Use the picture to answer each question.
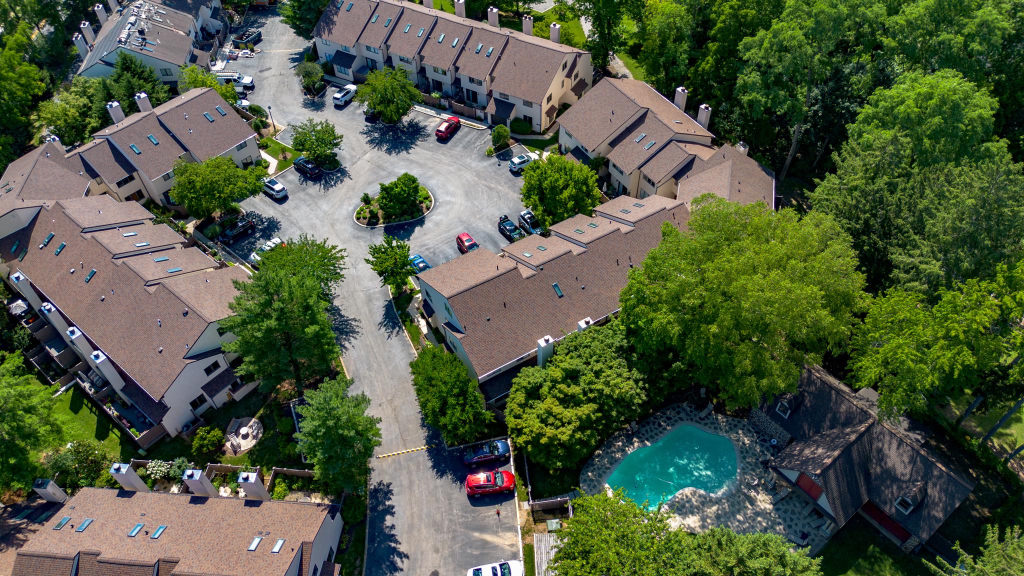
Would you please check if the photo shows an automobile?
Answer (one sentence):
Yes, you can see an automobile in this photo.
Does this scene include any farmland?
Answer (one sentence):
No, the picture contains no farmland.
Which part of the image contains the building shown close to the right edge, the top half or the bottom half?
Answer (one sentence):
The building shown close to the right edge sits in the bottom half of the picture.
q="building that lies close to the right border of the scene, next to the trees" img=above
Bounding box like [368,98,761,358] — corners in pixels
[745,353,979,550]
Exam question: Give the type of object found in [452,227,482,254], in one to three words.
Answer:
car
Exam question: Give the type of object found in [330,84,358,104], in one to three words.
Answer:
car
